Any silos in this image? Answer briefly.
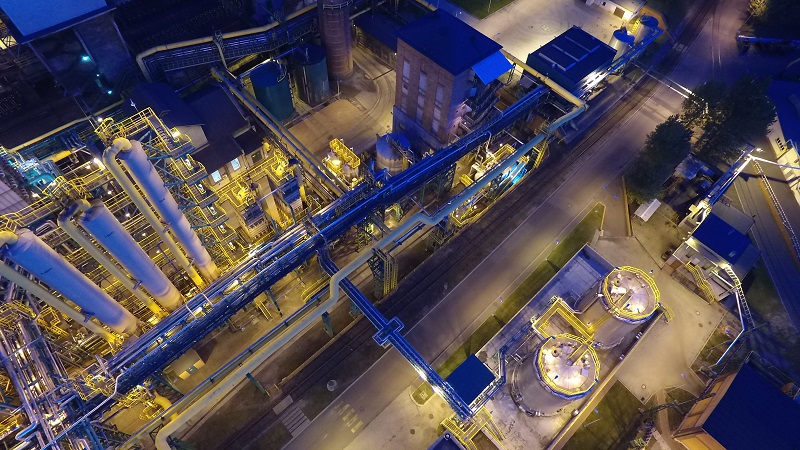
Yes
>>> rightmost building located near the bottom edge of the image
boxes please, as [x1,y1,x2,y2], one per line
[674,352,800,450]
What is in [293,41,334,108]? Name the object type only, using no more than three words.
silo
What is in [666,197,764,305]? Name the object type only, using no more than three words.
building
